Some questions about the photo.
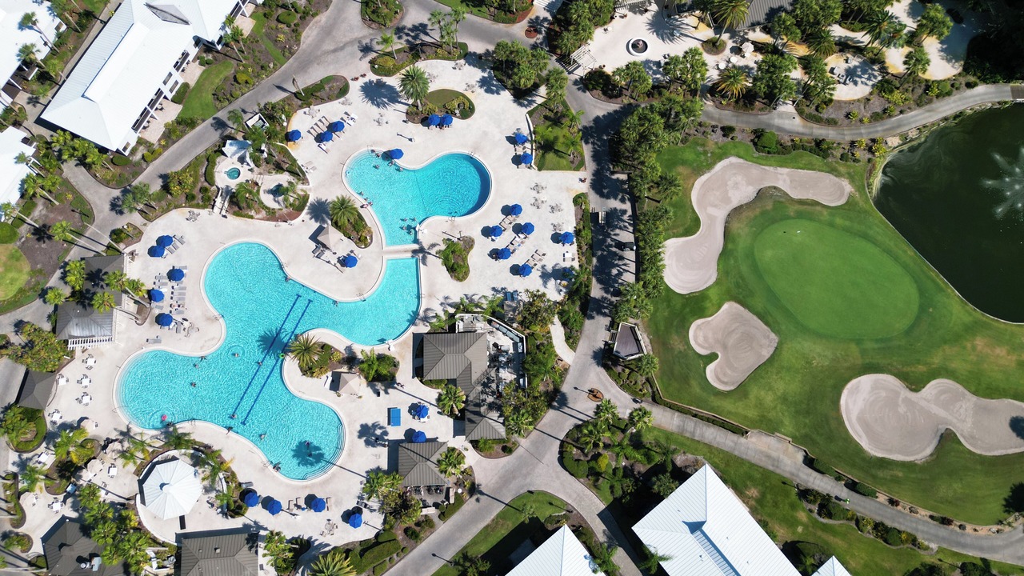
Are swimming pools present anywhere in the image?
Yes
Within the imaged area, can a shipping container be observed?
No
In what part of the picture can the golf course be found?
right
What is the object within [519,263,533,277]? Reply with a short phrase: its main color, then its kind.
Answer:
blue umbrella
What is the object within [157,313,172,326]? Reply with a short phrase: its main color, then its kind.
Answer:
blue umbrella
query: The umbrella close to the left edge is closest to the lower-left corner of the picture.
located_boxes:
[19,490,39,507]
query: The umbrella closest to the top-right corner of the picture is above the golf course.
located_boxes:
[741,40,755,55]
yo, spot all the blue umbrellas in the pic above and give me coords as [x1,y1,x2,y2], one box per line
[150,245,164,258]
[521,222,535,236]
[244,491,259,507]
[320,131,333,144]
[158,234,172,248]
[489,225,503,238]
[311,497,326,512]
[520,153,532,165]
[441,114,454,127]
[560,232,574,245]
[519,263,533,277]
[510,204,522,216]
[412,429,427,443]
[157,313,172,326]
[390,148,403,161]
[348,512,363,528]
[497,247,510,260]
[267,499,282,515]
[428,114,441,126]
[344,255,358,268]
[415,404,429,418]
[150,289,164,302]
[169,268,182,281]
[288,129,301,142]
[331,120,344,133]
